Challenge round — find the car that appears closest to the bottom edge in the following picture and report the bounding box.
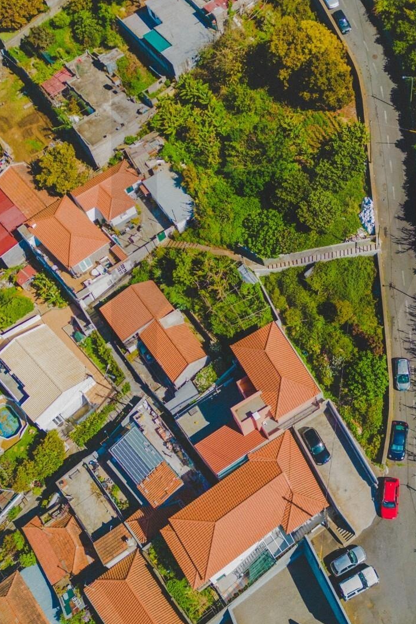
[338,570,380,605]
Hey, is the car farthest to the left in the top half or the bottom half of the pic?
bottom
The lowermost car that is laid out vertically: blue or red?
red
